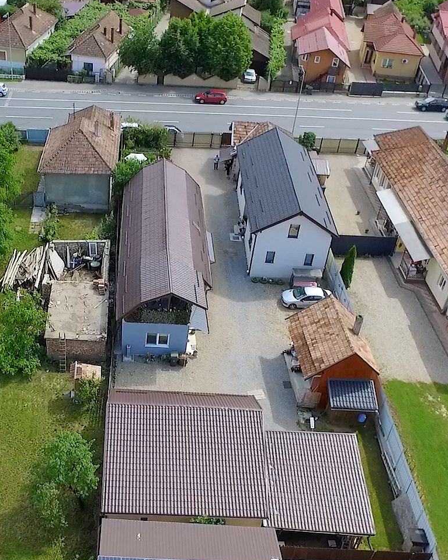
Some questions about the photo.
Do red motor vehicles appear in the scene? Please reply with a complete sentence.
Yes, there is a red motor vehicle in the image.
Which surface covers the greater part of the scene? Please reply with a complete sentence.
The largest share of the image is taken up by buildings.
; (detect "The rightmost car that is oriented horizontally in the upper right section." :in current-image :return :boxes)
[416,95,448,111]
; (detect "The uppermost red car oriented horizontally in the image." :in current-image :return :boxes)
[195,88,228,104]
